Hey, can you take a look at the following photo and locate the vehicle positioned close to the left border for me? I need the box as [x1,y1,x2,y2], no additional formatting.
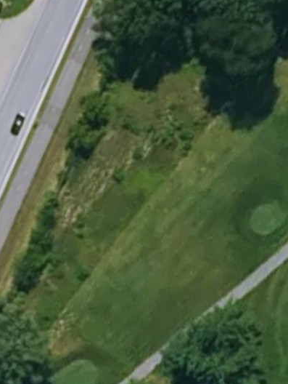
[9,111,25,135]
